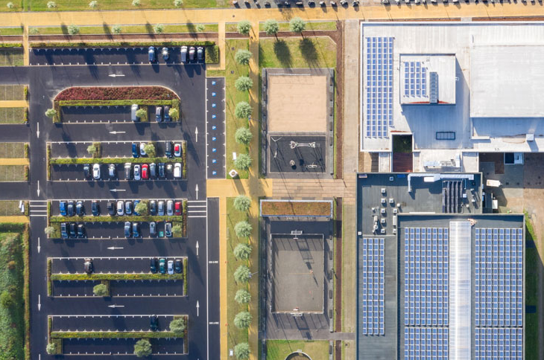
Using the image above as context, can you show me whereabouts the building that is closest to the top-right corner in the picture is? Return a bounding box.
[360,22,544,172]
